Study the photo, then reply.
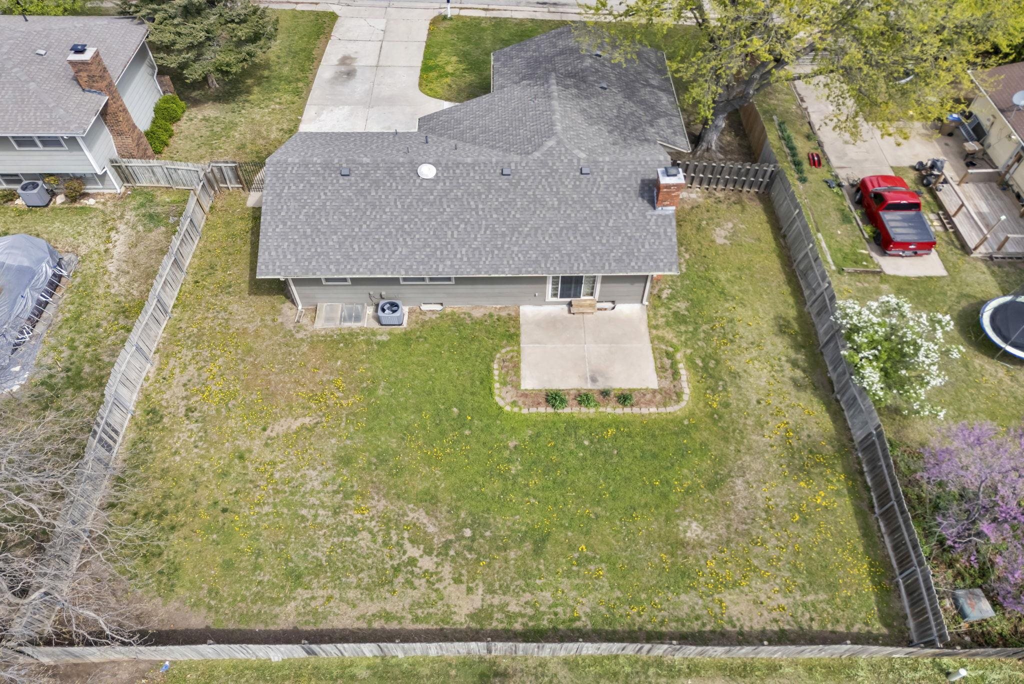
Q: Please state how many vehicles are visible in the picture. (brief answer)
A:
2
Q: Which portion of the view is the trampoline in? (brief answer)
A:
right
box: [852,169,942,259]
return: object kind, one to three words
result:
truck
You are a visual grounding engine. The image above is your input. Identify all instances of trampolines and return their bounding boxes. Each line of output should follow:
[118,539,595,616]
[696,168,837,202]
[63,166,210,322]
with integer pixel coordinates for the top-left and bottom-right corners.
[973,267,1024,377]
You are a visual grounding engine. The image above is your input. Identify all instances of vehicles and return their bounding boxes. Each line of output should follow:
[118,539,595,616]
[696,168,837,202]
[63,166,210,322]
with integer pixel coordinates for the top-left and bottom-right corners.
[852,169,942,259]
[912,150,958,188]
